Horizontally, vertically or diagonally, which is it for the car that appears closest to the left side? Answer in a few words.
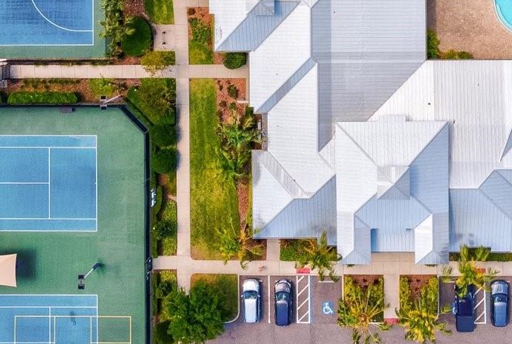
vertically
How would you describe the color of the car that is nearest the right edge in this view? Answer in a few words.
blue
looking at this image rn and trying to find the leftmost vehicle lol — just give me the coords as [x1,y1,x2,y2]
[241,278,261,324]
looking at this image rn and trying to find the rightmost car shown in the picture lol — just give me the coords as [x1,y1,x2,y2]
[490,278,511,327]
